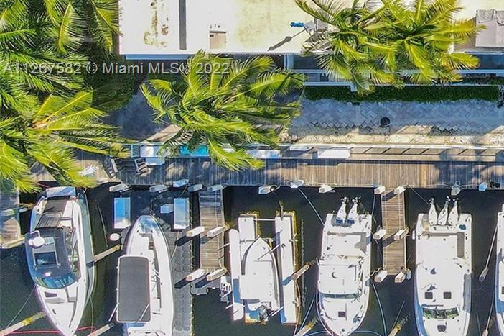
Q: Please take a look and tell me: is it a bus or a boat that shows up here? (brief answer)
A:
boat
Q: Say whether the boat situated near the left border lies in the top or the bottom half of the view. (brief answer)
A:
bottom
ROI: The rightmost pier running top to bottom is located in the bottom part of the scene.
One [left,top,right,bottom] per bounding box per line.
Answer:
[382,189,406,272]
